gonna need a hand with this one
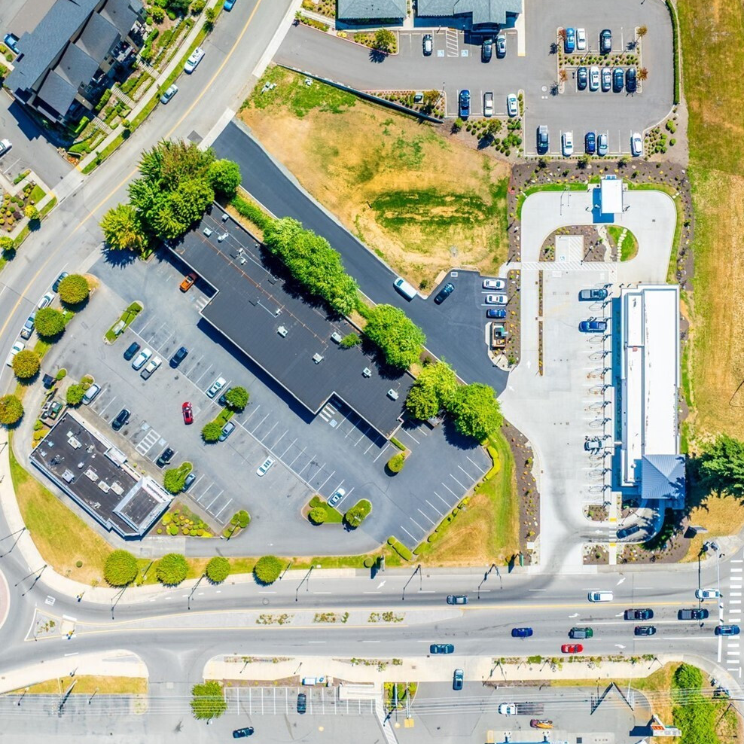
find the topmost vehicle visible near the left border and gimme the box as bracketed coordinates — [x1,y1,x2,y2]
[1,32,18,51]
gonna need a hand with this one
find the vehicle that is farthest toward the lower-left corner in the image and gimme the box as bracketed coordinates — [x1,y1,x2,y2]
[232,725,255,739]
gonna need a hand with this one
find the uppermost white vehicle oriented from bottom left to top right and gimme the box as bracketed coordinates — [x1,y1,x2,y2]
[185,47,205,71]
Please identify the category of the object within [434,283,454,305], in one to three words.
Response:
car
